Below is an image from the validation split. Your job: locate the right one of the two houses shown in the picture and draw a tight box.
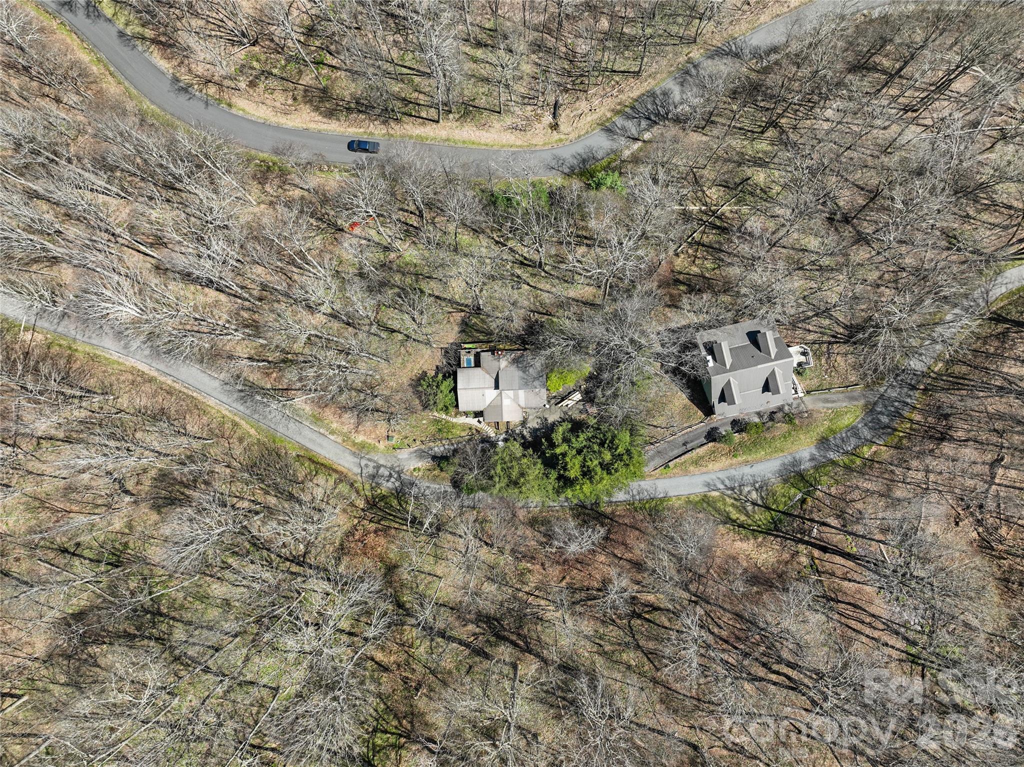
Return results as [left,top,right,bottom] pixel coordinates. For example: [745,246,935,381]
[693,317,795,420]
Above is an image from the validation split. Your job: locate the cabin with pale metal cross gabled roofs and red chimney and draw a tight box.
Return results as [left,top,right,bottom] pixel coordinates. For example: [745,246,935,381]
[457,347,547,422]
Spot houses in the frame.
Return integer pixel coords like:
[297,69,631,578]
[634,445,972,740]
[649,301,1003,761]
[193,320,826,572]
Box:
[693,317,795,420]
[457,347,547,422]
